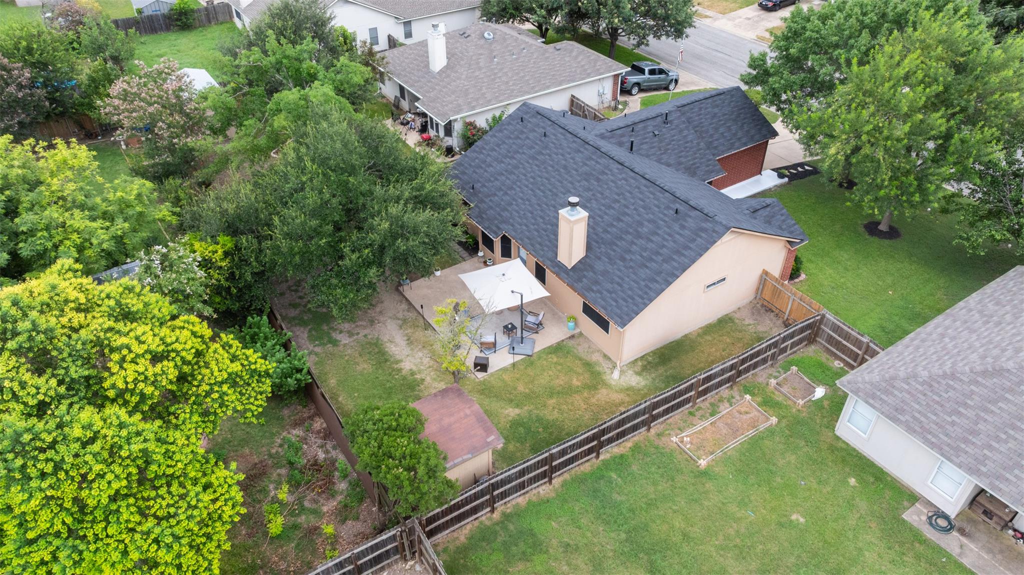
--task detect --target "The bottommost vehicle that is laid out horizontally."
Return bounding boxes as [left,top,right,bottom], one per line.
[621,63,683,94]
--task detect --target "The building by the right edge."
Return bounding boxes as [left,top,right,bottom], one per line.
[834,268,1024,530]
